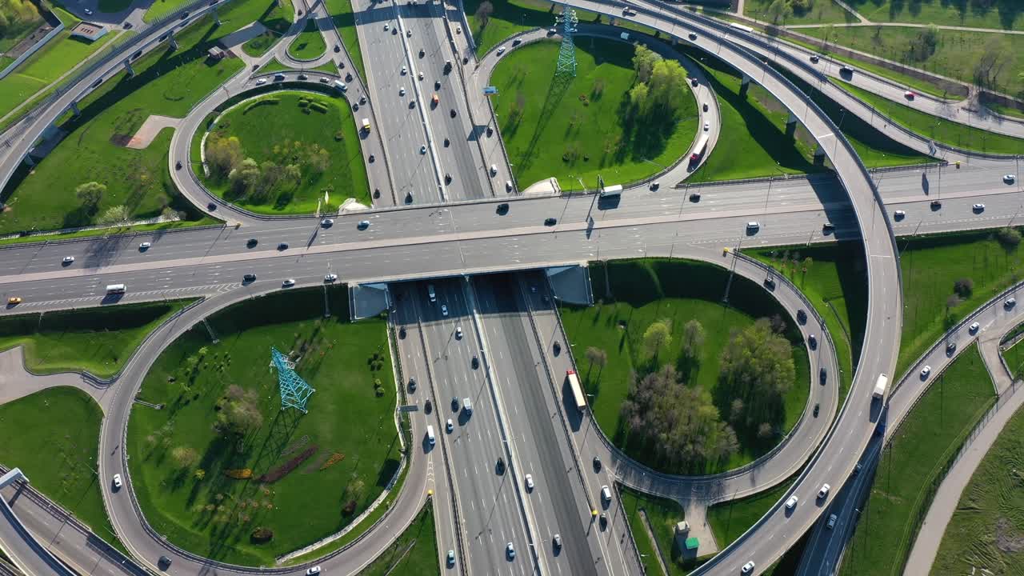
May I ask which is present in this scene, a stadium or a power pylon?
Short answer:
power pylon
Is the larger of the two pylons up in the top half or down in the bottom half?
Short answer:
bottom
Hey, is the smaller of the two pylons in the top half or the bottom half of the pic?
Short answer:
top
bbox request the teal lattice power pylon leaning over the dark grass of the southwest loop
[269,345,317,416]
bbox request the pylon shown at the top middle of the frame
[555,6,581,77]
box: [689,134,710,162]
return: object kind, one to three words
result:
truck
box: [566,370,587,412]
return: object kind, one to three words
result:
truck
